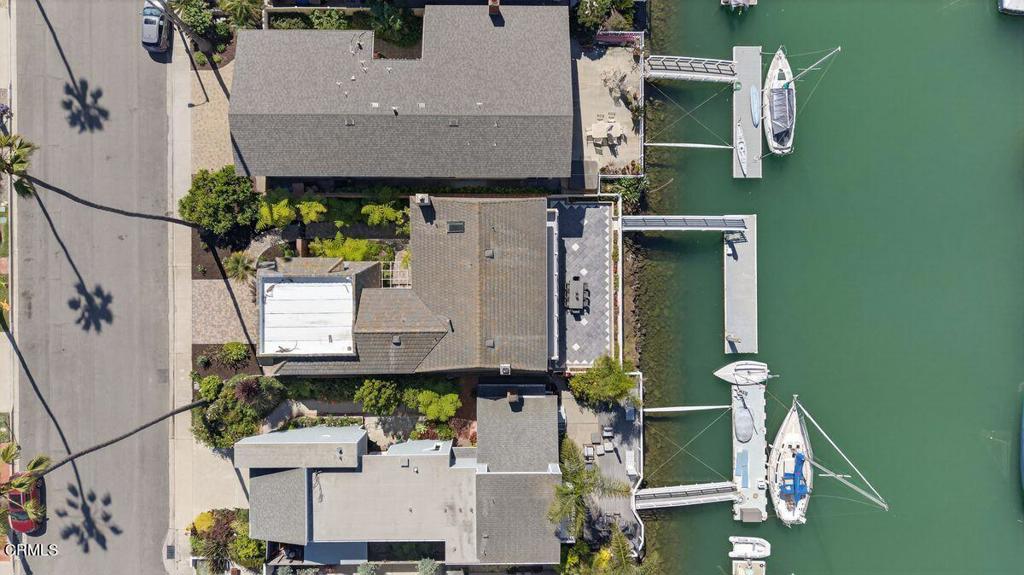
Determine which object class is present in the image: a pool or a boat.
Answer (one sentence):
There is a boat in the scene.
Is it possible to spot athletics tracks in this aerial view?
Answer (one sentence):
No, there's no athletics track here.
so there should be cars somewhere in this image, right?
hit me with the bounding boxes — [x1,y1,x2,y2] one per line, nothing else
[5,469,42,534]
[138,0,173,53]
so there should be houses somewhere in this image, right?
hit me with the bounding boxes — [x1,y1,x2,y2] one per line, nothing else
[228,0,574,181]
[235,379,571,566]
[253,192,558,376]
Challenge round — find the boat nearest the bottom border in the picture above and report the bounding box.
[729,536,771,558]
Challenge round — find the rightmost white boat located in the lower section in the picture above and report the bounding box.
[765,397,888,525]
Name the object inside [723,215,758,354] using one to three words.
pier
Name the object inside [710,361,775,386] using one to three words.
boat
